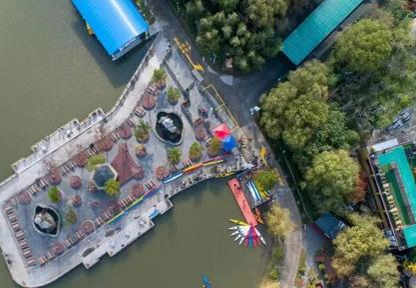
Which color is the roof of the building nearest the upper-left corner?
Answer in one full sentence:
From above, the roof of the building nearest the upper-left corner looks blue.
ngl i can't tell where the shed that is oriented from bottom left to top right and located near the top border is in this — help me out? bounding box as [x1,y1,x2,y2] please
[281,0,371,68]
